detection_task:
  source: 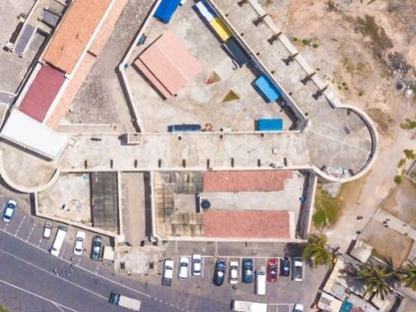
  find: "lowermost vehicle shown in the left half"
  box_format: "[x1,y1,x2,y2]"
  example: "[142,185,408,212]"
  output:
[108,288,143,311]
